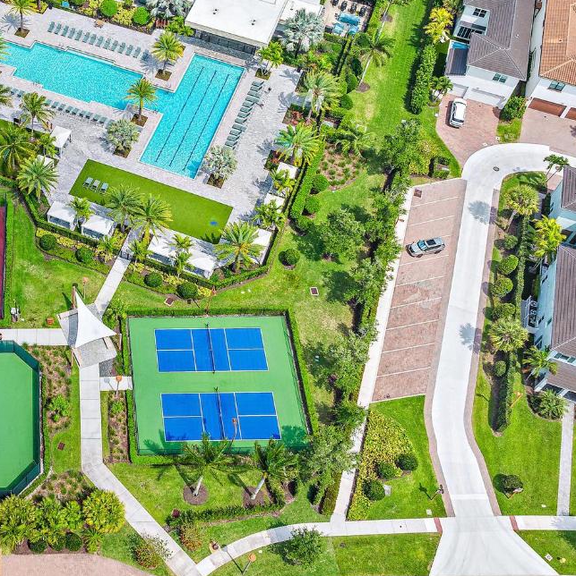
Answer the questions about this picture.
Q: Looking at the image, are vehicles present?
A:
Yes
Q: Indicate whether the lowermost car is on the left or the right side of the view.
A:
right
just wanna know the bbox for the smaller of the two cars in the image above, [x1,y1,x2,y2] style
[449,99,468,125]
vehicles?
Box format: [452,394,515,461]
[406,235,446,257]
[449,99,468,125]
